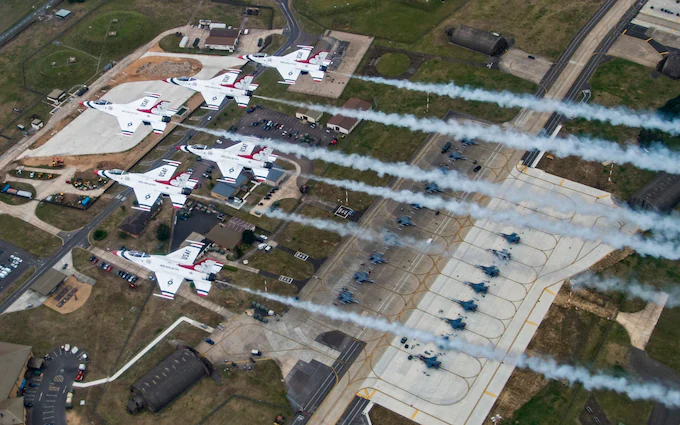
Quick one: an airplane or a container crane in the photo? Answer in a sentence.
This aerial view contains an airplane.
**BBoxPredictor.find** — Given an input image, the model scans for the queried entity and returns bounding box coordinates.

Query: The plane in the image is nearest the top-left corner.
[80,92,178,137]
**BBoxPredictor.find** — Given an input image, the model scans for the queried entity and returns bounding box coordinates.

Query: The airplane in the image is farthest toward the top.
[239,45,332,86]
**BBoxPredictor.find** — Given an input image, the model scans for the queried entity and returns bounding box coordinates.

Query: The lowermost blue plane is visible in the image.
[417,353,445,369]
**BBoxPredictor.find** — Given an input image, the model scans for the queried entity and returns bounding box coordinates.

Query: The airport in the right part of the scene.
[196,0,680,425]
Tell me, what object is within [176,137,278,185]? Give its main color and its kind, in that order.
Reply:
white airplane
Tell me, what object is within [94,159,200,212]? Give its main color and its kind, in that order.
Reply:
white airplane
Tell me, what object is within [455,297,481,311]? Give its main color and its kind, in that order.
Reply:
blue airplane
